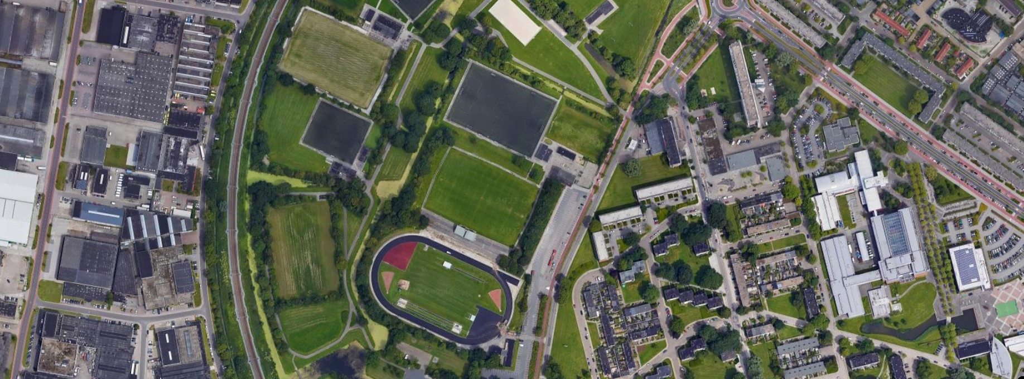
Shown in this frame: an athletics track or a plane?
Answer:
athletics track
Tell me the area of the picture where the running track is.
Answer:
bottom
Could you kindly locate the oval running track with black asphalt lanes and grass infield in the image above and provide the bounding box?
[369,233,520,344]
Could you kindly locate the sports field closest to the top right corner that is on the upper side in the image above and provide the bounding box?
[600,8,661,55]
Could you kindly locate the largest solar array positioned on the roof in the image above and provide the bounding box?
[954,249,980,285]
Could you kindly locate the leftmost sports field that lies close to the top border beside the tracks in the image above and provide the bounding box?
[280,7,395,113]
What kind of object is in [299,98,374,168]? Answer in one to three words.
sports field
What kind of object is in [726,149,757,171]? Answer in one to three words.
building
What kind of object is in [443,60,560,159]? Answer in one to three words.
soccer field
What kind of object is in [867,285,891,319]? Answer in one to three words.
building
